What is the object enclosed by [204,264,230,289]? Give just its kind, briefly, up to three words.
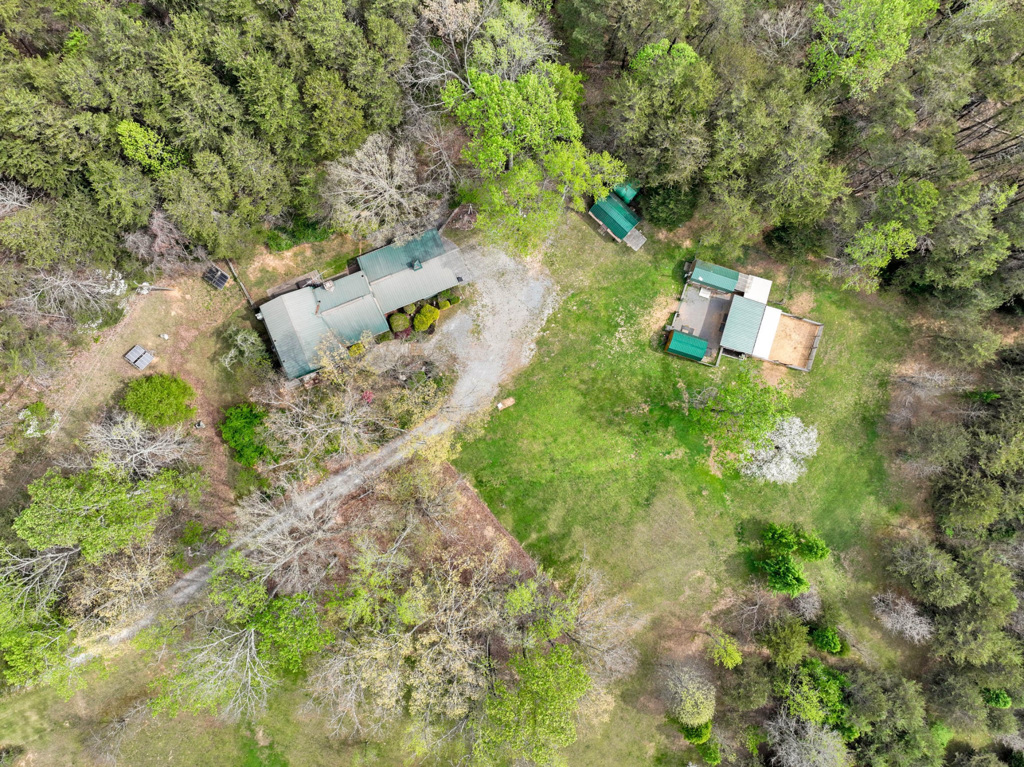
solar array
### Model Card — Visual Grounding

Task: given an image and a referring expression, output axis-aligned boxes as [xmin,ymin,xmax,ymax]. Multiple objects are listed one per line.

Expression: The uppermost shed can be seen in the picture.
[588,191,641,243]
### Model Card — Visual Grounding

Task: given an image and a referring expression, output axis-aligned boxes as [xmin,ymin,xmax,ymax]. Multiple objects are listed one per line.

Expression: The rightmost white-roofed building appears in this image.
[713,273,782,359]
